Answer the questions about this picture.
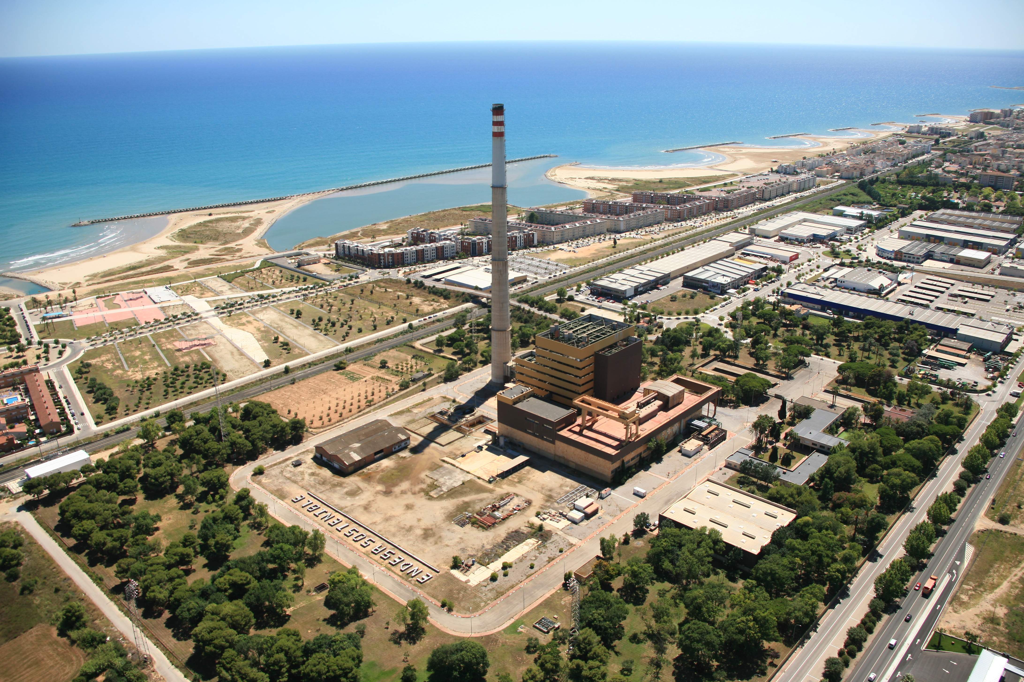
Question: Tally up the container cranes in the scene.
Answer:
1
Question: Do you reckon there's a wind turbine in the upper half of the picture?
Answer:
No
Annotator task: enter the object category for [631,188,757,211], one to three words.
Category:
building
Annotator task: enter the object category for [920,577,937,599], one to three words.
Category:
vehicle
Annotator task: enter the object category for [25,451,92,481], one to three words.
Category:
shed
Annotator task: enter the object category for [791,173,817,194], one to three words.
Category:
building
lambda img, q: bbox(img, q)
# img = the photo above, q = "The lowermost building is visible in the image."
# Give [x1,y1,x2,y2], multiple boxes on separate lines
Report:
[574,555,601,585]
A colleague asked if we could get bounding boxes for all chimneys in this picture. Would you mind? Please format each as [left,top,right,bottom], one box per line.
[489,102,511,385]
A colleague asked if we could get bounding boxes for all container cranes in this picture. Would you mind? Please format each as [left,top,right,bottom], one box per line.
[574,387,645,446]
